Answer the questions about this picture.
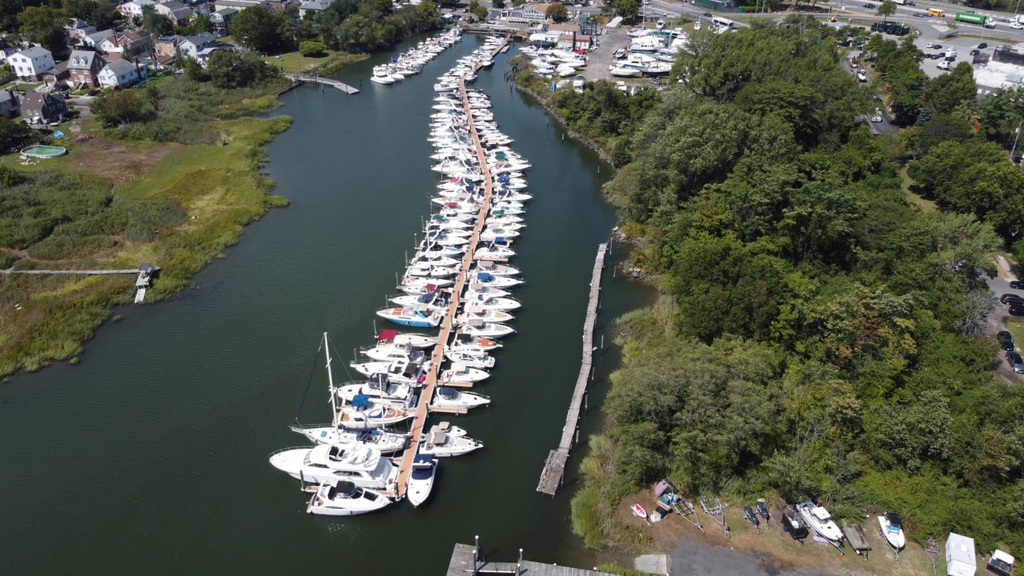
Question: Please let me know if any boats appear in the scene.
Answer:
Yes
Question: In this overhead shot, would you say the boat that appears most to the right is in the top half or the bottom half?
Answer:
bottom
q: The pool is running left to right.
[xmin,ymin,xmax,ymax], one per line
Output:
[19,144,64,159]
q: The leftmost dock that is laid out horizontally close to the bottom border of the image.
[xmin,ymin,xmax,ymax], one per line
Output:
[449,544,647,576]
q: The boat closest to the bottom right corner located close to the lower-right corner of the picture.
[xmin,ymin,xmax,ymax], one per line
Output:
[872,508,905,550]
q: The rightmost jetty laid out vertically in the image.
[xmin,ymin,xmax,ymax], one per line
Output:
[535,243,607,495]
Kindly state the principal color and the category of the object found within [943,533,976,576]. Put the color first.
white vehicle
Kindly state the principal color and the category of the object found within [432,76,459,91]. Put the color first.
white boat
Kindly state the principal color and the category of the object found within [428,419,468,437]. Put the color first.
white boat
